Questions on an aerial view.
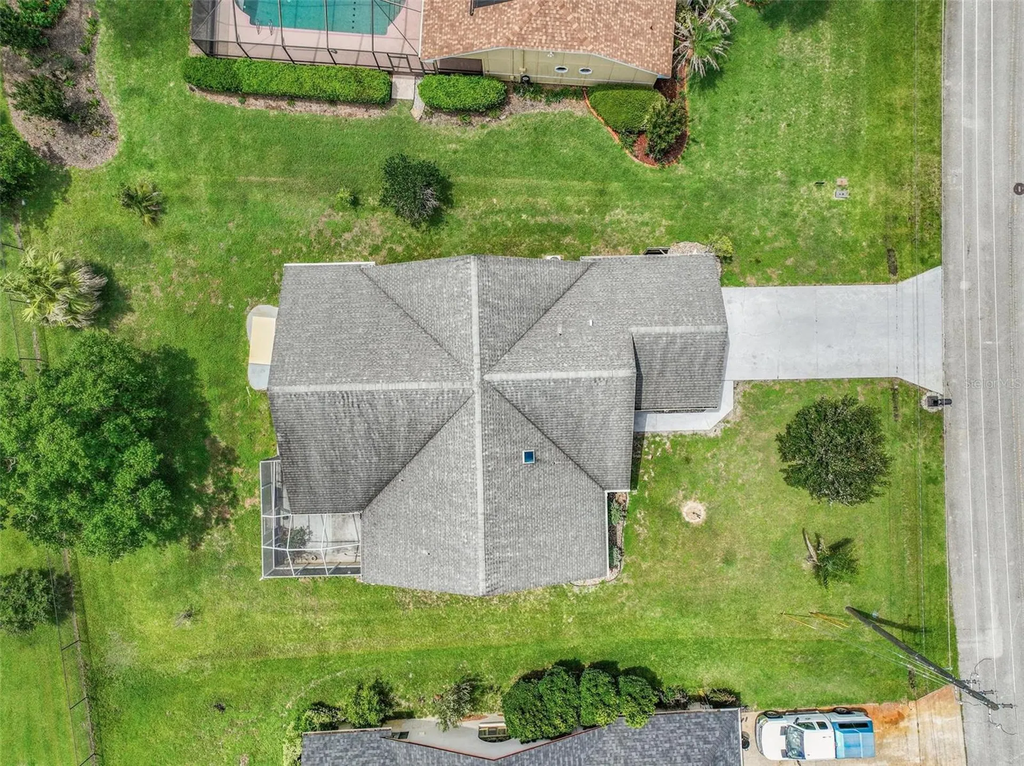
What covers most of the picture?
grass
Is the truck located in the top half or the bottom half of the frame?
bottom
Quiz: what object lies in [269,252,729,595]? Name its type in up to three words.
house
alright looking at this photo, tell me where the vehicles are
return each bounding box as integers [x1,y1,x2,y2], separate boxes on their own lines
[753,710,875,766]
